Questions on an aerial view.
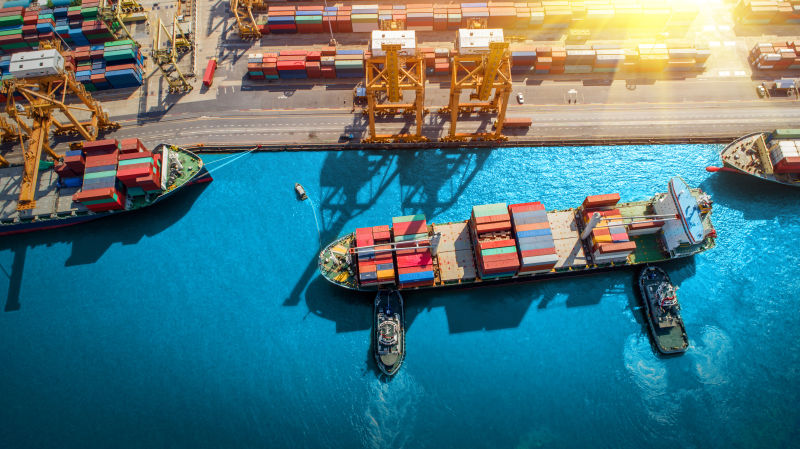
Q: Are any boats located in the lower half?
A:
Yes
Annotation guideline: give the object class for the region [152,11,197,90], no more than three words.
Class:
container crane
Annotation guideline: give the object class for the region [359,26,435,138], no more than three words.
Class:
container crane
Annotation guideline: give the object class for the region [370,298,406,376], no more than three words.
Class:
boat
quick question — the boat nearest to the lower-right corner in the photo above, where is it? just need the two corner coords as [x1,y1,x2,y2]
[641,264,696,352]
